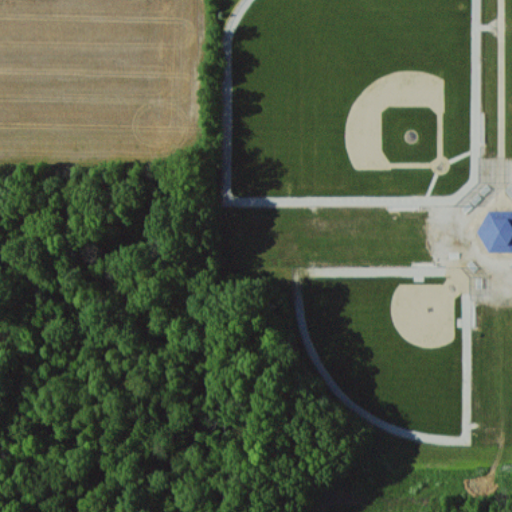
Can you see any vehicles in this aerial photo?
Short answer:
No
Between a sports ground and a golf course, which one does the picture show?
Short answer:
sports ground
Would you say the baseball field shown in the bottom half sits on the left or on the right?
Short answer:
right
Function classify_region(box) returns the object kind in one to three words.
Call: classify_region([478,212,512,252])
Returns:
building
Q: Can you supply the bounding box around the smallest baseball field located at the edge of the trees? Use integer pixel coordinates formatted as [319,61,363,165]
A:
[294,266,480,446]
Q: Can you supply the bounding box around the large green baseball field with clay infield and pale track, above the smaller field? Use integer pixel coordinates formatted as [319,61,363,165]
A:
[223,0,482,211]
